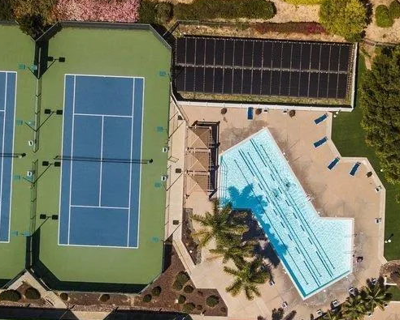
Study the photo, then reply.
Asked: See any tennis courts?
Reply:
Yes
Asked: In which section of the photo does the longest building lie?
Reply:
center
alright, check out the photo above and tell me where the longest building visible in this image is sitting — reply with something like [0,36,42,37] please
[183,125,213,197]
